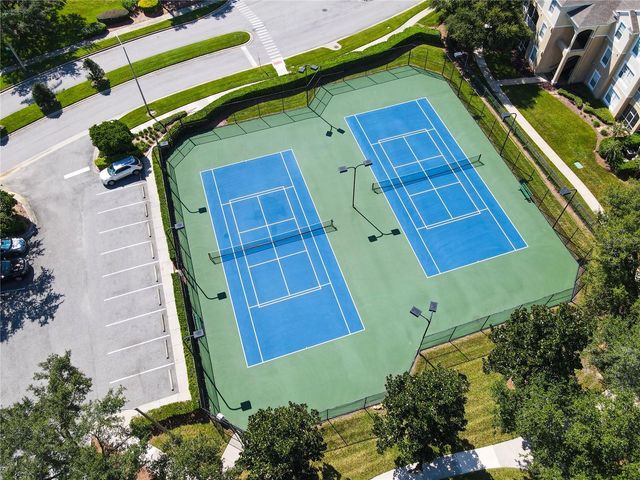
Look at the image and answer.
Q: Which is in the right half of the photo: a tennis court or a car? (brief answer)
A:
tennis court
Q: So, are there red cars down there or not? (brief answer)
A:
No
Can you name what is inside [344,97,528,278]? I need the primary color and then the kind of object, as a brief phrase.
blue tennis court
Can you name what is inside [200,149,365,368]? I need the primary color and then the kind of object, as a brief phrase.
blue tennis court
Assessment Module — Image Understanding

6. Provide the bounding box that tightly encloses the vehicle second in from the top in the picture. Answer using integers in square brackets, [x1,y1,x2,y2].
[0,236,26,259]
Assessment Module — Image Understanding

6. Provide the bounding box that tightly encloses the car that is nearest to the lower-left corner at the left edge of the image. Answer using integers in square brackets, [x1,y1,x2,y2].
[0,261,25,284]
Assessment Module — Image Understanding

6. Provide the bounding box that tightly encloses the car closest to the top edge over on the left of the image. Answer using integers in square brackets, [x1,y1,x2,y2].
[99,156,143,184]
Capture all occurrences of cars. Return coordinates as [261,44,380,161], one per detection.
[0,261,25,284]
[0,236,26,259]
[99,156,143,184]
